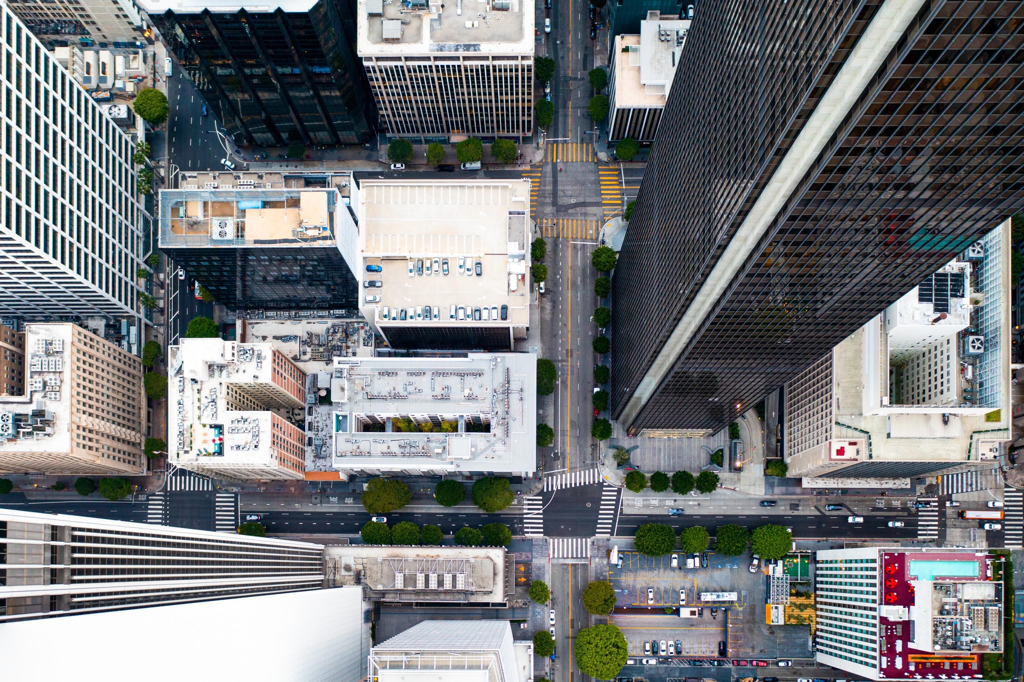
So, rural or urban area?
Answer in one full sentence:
The area shown here is urban.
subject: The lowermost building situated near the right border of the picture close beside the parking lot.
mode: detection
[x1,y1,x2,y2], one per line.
[819,543,1011,680]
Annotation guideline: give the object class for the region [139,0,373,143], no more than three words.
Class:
building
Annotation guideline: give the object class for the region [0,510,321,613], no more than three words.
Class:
building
